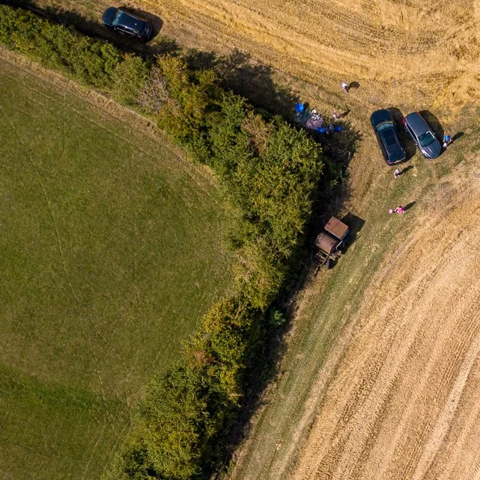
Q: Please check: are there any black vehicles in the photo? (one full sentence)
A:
Yes, a black vehicle can be made out from above.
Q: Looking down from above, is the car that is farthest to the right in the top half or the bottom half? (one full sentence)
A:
The top half of the photo is where the car that is farthest to the right is.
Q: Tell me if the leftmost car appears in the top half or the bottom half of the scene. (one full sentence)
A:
The leftmost car is in the top half of the image.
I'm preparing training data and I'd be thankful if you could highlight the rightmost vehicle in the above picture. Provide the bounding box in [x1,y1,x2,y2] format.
[405,110,444,160]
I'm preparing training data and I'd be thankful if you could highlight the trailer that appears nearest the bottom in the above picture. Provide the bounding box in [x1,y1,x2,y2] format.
[312,217,350,277]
